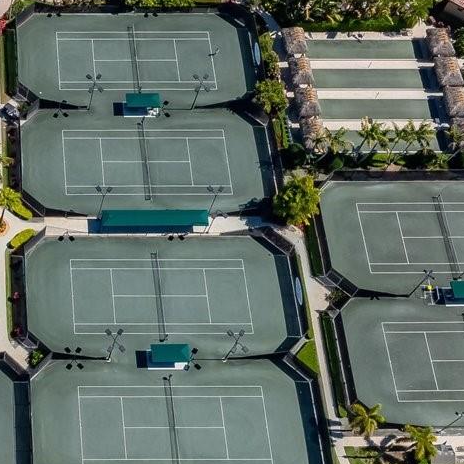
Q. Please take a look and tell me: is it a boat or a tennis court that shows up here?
tennis court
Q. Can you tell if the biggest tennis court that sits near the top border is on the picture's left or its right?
left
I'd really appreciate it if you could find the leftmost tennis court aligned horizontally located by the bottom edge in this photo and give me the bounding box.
[28,359,325,464]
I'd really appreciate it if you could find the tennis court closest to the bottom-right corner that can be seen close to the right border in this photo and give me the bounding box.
[341,297,464,429]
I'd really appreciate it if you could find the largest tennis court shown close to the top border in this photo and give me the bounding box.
[17,13,259,110]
